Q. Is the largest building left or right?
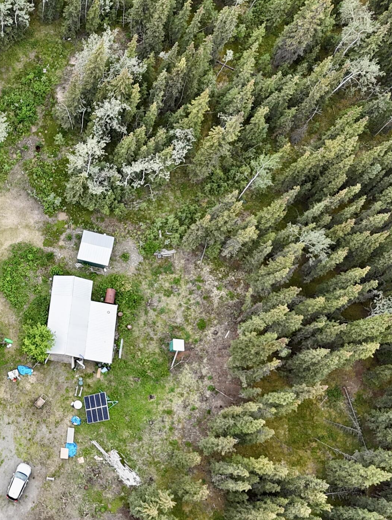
left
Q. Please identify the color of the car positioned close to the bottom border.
white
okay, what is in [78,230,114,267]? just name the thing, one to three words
shed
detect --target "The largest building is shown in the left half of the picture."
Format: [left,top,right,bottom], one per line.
[43,276,117,370]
